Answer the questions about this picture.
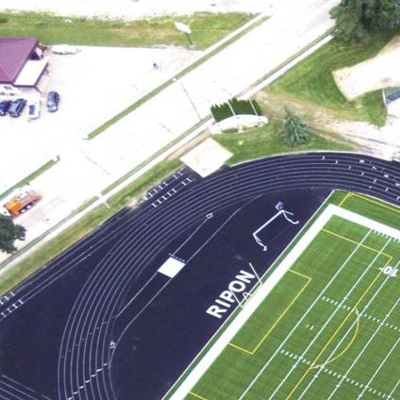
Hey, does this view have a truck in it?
Yes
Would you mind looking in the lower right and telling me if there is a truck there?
No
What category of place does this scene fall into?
sports ground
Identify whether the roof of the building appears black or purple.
purple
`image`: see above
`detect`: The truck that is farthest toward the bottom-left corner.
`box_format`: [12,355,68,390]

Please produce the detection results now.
[1,189,48,223]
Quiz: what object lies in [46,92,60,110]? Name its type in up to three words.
vehicle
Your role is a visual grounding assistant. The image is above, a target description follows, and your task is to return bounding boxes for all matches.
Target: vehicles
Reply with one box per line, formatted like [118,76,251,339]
[25,98,41,119]
[0,98,12,116]
[10,97,27,117]
[1,189,48,223]
[46,92,60,110]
